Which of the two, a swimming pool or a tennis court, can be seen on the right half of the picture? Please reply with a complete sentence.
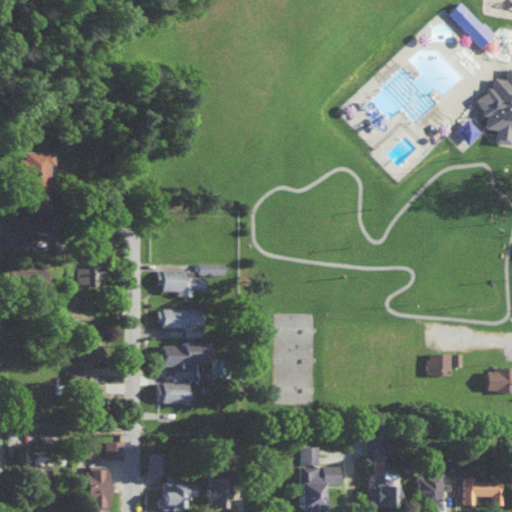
Looking on the right half of the picture, you will find a swimming pool.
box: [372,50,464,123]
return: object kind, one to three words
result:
swimming pool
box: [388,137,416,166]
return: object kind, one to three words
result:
swimming pool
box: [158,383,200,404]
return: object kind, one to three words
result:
house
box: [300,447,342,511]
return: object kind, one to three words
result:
house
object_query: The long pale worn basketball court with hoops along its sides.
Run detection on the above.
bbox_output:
[272,313,314,404]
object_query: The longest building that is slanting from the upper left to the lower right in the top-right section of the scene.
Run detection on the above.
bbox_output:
[452,3,496,49]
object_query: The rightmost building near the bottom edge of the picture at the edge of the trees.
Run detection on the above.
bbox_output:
[462,478,505,507]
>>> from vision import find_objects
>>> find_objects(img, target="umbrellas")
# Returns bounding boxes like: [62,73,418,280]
[440,125,451,137]
[461,35,472,47]
[486,41,498,53]
[345,106,357,117]
[419,35,430,46]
